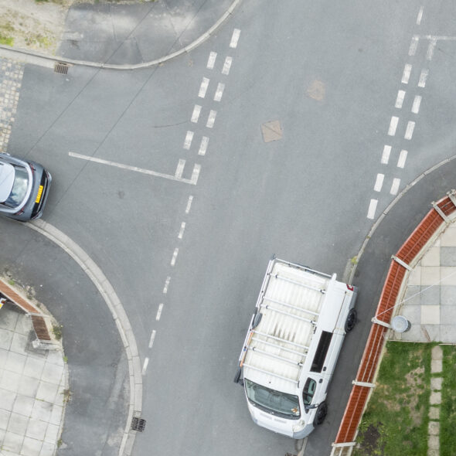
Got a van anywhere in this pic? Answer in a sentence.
Yes, a van is visible in the scene.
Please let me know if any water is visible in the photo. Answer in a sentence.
No, there's no water in this view.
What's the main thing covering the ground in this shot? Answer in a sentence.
The largest share of the image is taken up by paved ground.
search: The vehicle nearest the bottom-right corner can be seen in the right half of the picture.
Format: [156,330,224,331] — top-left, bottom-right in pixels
[241,260,360,439]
